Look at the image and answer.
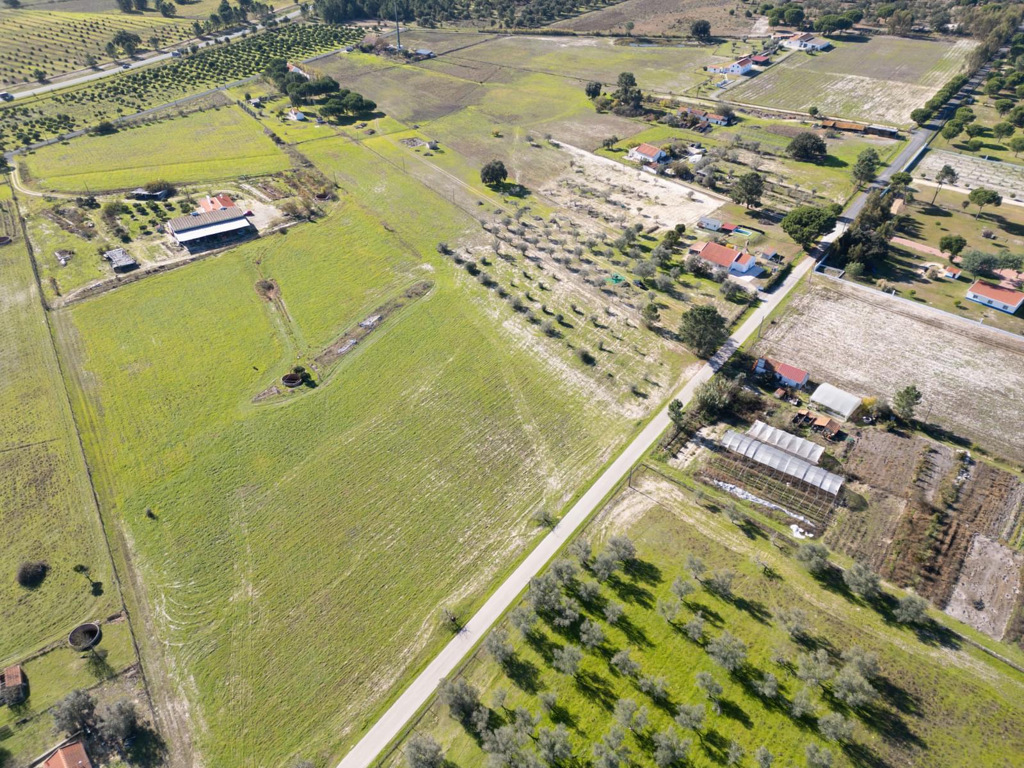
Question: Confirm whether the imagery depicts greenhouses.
Yes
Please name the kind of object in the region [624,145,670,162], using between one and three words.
house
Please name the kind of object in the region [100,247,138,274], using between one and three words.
shed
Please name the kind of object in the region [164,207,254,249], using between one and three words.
barn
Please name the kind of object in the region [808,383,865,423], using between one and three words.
greenhouse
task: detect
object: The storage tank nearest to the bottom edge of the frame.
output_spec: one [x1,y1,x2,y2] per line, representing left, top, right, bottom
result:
[66,622,103,651]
